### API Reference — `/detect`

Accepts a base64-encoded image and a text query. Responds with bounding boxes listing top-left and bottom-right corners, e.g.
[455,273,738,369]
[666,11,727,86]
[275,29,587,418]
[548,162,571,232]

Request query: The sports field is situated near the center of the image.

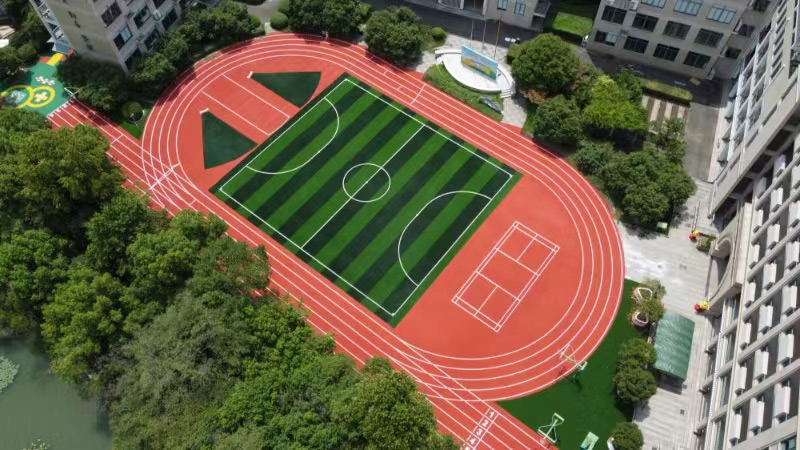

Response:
[209,73,522,327]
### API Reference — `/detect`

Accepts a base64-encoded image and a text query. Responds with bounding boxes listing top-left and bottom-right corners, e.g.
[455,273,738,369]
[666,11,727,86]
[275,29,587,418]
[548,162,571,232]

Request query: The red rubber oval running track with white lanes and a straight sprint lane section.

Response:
[46,32,624,450]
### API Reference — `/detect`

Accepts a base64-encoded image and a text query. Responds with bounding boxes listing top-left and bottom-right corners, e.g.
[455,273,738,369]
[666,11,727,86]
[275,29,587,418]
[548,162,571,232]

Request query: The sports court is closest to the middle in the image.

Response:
[452,220,559,332]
